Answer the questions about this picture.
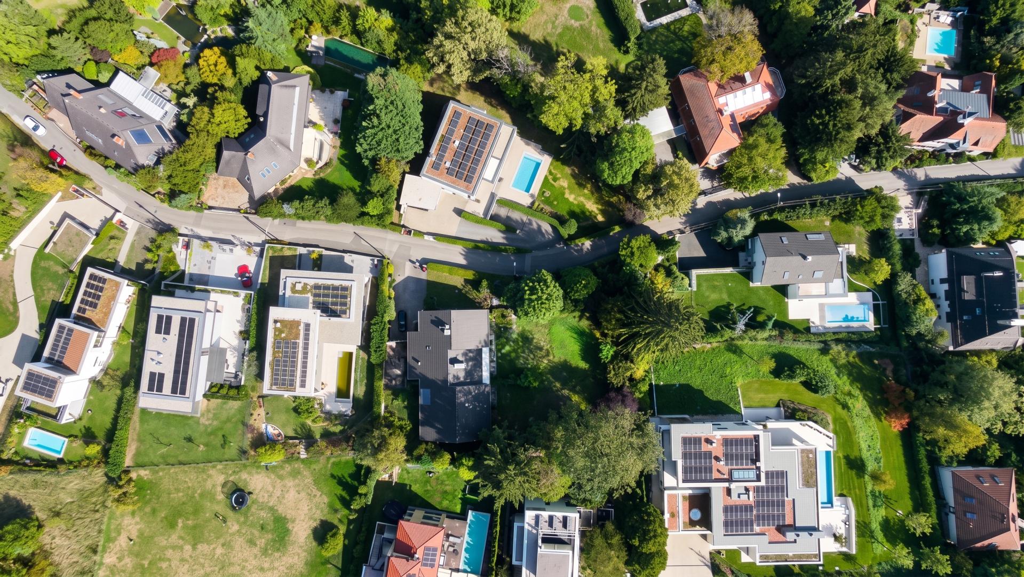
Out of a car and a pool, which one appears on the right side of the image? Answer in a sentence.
Looking on the right side of the image, you will find a pool.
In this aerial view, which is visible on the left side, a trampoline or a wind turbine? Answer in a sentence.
The one visible on the left side is a trampoline.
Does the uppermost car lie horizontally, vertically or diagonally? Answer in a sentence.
What the image shows is the uppermost car lying diagonally.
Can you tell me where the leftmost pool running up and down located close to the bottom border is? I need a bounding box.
[459,509,491,576]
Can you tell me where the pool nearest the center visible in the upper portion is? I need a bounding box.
[509,151,544,195]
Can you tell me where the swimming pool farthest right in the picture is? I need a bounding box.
[924,24,959,59]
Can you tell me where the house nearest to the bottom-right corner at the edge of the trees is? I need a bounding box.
[937,464,1020,550]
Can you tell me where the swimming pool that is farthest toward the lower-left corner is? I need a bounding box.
[23,426,70,459]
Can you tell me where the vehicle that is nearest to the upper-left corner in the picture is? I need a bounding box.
[22,114,48,138]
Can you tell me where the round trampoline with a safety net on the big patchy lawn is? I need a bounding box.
[225,491,251,515]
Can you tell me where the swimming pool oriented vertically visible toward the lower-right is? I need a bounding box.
[818,448,835,509]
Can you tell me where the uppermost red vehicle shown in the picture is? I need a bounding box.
[46,148,69,167]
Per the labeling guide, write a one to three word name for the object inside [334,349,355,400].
swimming pool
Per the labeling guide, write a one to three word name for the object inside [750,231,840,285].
house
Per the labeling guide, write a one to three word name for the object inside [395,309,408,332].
vehicle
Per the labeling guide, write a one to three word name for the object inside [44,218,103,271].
building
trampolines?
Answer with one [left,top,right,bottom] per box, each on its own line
[383,500,405,522]
[225,491,251,515]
